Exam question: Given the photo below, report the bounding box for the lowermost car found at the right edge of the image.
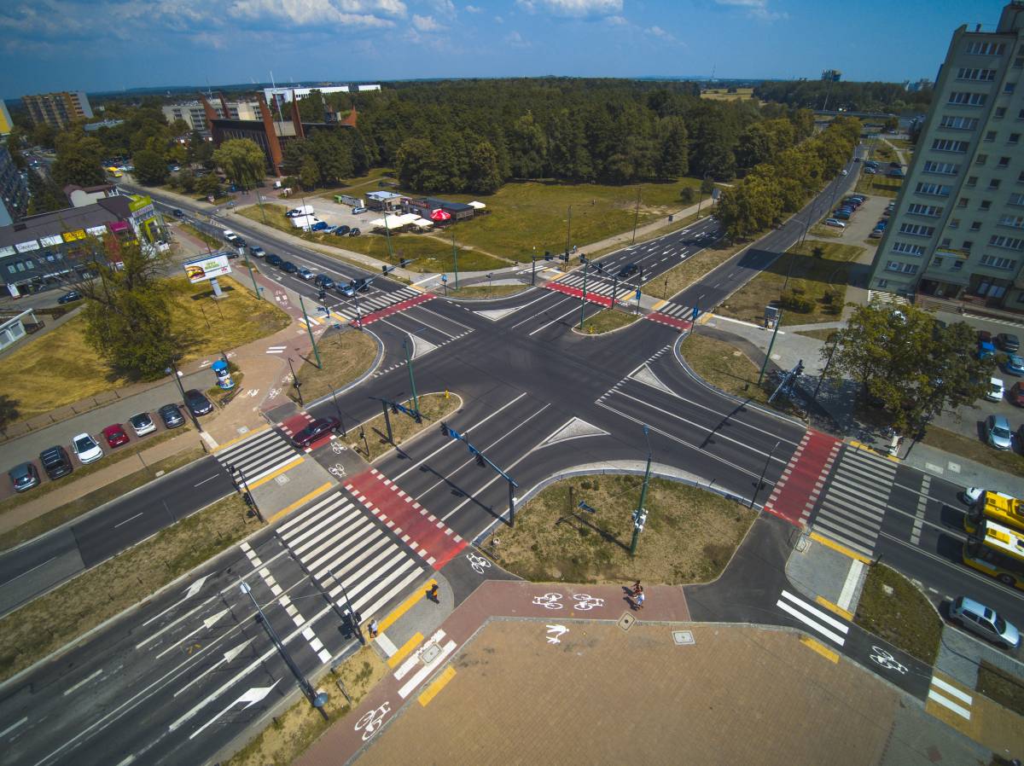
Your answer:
[940,598,1024,653]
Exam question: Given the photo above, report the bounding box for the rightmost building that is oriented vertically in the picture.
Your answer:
[869,0,1024,315]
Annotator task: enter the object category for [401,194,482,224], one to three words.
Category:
building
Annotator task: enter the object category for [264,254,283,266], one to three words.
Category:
vehicle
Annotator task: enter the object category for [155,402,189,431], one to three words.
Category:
car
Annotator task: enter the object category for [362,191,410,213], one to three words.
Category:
shed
